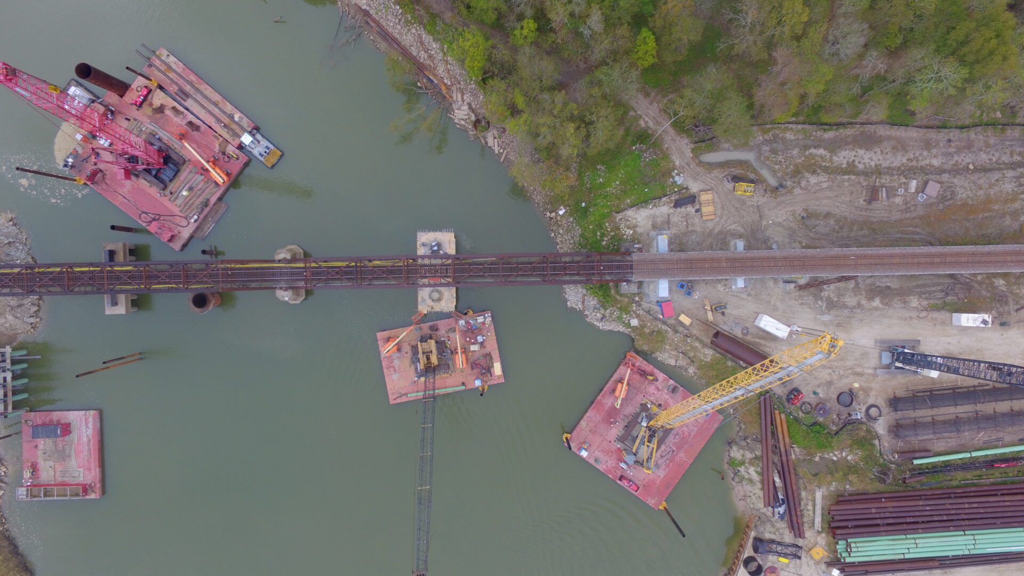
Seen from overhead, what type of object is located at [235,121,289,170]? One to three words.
boat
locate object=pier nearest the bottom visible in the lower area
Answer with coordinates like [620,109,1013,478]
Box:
[0,345,41,417]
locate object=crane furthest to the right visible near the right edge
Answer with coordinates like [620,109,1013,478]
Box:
[878,340,1024,386]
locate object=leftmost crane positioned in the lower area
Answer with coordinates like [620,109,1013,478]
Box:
[410,336,452,576]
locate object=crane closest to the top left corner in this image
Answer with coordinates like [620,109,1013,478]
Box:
[0,64,185,190]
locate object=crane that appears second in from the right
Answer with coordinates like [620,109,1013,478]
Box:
[618,328,877,473]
